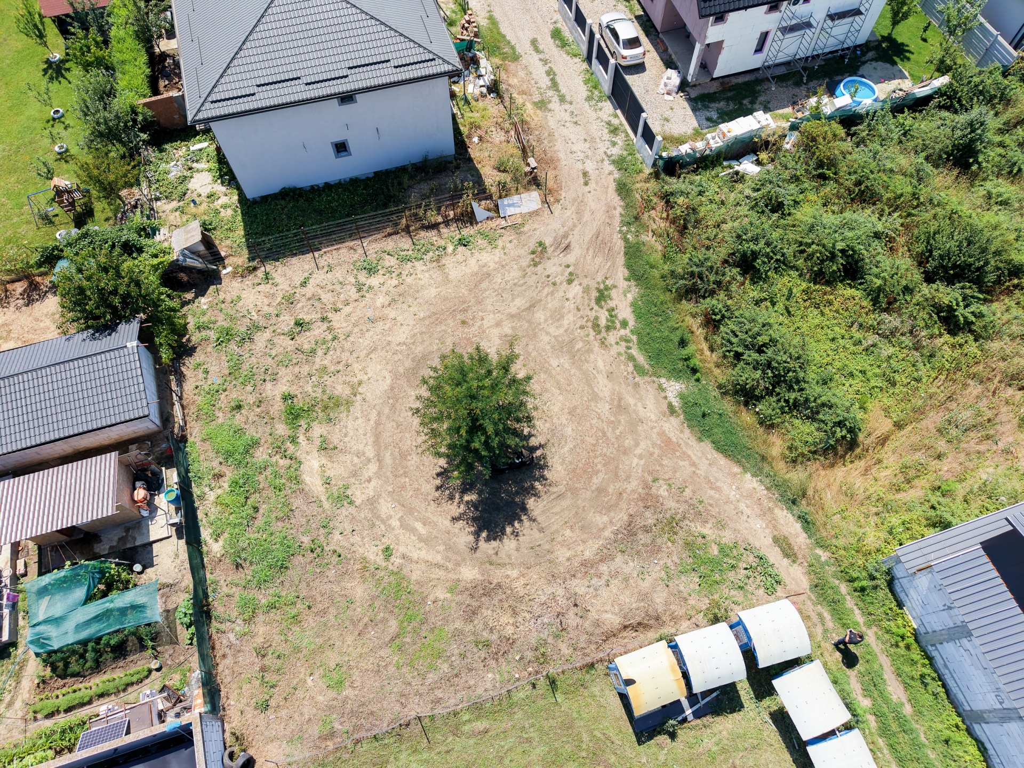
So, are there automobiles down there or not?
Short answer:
Yes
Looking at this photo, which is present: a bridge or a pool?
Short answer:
pool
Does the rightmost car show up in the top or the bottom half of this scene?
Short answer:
top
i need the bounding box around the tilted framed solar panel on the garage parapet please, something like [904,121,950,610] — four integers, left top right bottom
[77,719,128,753]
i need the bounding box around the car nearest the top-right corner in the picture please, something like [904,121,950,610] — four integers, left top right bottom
[597,10,648,67]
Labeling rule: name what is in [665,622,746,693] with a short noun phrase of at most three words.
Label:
building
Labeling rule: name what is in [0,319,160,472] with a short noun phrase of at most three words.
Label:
shed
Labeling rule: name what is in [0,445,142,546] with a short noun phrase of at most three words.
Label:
shed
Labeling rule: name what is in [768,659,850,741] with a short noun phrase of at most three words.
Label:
building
